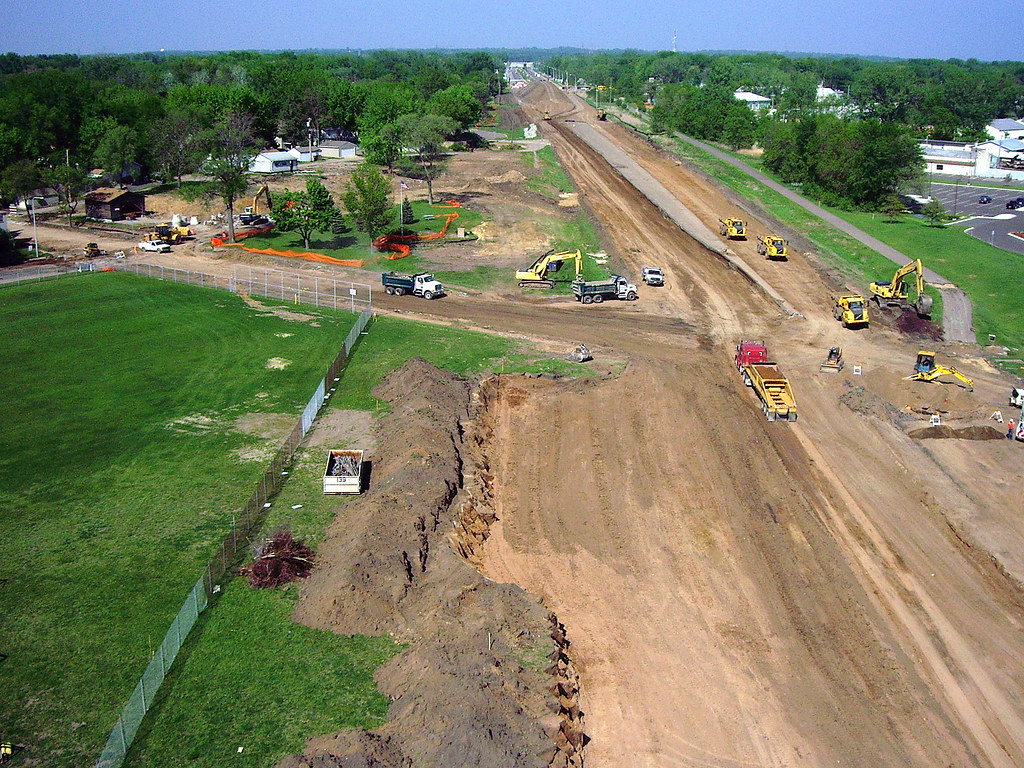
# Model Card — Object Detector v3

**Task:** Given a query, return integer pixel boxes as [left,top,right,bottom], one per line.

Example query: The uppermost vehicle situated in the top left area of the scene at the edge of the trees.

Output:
[238,177,282,225]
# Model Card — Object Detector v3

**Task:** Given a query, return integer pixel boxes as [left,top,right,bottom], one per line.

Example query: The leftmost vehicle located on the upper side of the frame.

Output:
[77,238,110,257]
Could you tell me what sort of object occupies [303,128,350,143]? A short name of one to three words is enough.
house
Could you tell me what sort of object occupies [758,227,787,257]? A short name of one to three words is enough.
truck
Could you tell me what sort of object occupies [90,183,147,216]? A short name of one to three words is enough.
shed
